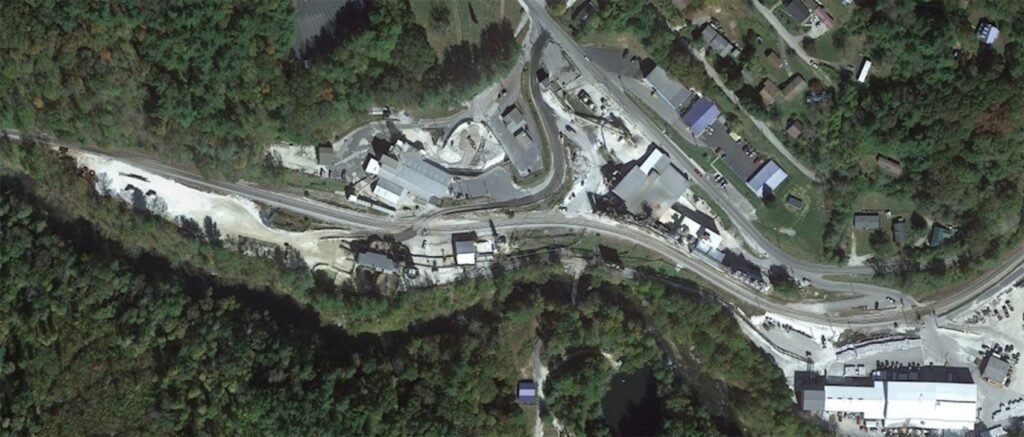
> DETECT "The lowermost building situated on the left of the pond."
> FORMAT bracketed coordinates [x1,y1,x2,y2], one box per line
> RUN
[519,382,536,404]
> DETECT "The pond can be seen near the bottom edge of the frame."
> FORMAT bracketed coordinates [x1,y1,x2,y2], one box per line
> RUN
[601,370,653,437]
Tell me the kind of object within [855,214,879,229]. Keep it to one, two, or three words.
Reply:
house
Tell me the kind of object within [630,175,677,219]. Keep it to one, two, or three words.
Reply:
building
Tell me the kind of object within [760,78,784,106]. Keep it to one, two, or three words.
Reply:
house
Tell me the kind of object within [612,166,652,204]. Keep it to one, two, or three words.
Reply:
building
